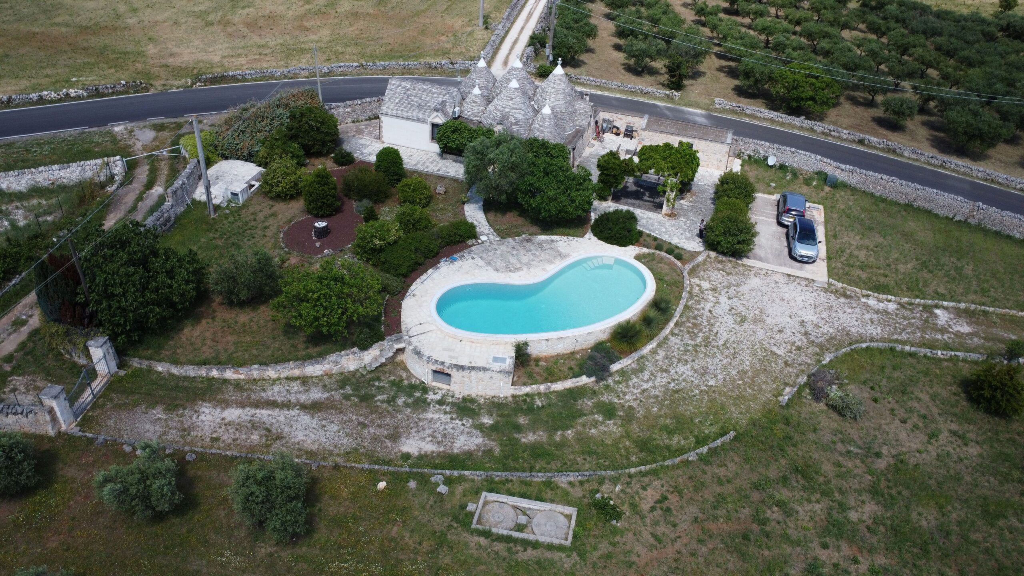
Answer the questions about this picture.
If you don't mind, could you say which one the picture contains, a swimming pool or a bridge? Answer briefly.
swimming pool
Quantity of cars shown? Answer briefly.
two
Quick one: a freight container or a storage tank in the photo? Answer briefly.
storage tank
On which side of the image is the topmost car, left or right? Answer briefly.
right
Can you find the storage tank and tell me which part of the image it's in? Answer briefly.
bottom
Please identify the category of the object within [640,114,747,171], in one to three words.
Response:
shed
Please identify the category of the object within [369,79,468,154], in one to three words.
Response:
house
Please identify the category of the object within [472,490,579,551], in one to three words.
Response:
storage tank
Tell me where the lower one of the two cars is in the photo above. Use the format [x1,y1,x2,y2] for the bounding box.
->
[781,215,819,256]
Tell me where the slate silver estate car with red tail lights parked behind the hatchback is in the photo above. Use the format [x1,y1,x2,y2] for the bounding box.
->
[773,193,806,222]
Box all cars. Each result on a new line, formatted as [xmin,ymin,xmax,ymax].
[781,215,819,256]
[773,193,806,222]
